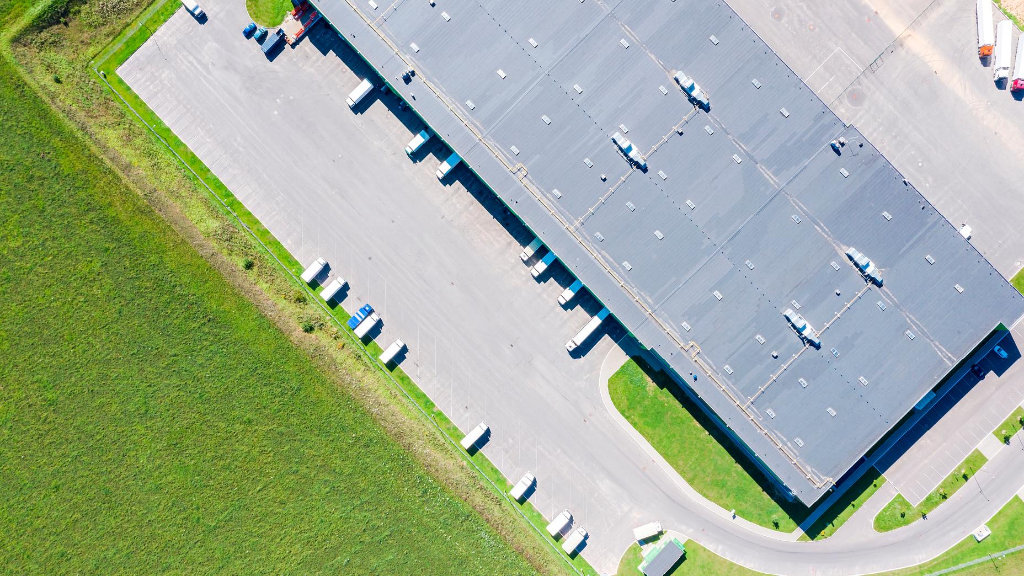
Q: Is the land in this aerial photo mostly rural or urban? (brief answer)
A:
urban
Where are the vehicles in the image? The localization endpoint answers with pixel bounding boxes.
[1012,33,1024,92]
[994,20,1014,80]
[530,251,555,278]
[291,9,320,39]
[511,470,535,498]
[320,275,348,301]
[546,507,572,535]
[283,35,294,45]
[971,365,985,379]
[379,337,406,364]
[518,239,541,263]
[435,153,460,180]
[404,130,431,157]
[243,23,258,37]
[461,421,488,448]
[562,524,587,553]
[346,79,373,108]
[993,345,1008,359]
[957,221,973,237]
[632,520,661,539]
[565,307,609,352]
[254,26,268,39]
[181,0,205,18]
[354,312,382,338]
[261,28,287,55]
[301,256,329,282]
[978,0,996,58]
[557,280,582,304]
